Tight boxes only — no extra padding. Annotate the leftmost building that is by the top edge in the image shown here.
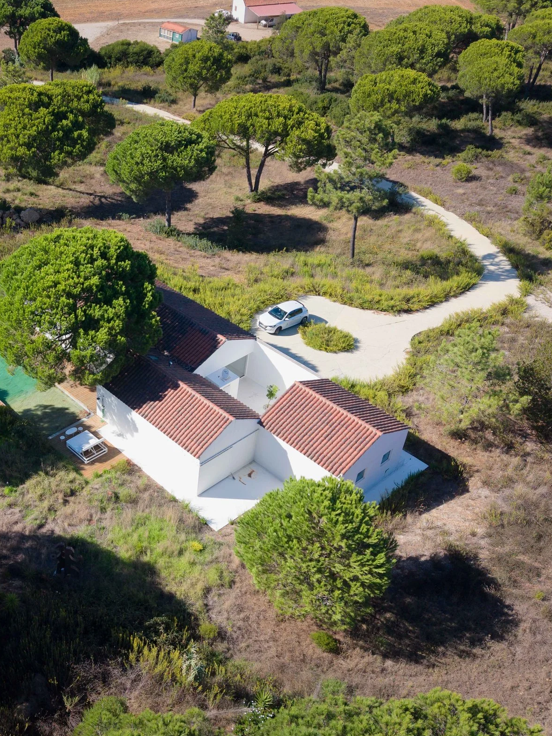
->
[158,18,201,43]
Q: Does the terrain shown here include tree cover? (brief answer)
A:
Yes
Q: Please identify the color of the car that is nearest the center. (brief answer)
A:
white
